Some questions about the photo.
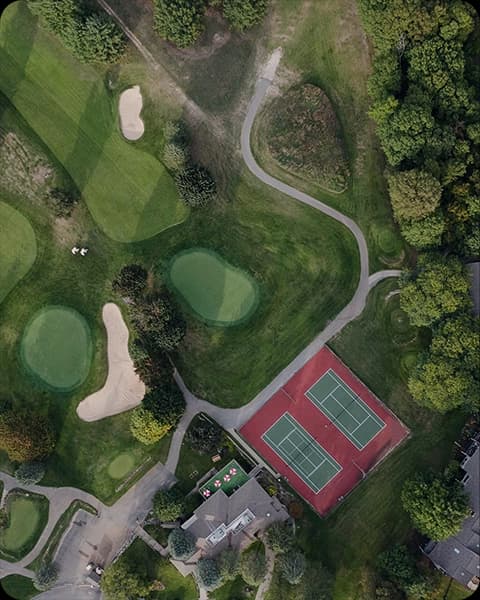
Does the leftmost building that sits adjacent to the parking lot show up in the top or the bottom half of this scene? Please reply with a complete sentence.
The leftmost building that sits adjacent to the parking lot is in the bottom half of the image.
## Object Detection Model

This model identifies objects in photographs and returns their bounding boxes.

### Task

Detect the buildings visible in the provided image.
[418,439,480,589]
[179,455,288,559]
[470,263,480,320]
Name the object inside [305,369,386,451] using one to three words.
tennis court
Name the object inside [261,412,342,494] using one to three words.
tennis court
